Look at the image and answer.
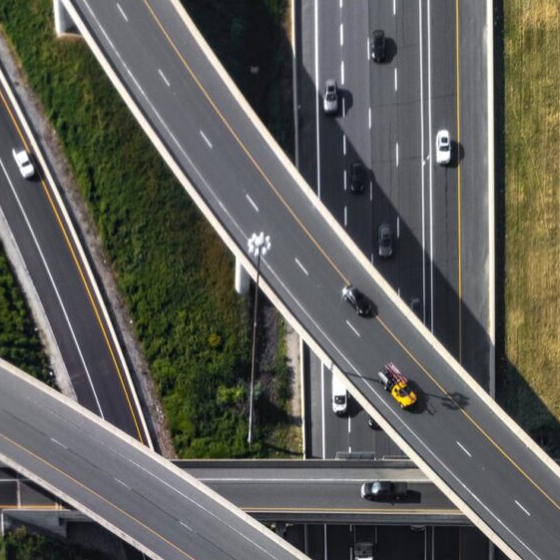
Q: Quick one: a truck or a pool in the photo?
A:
truck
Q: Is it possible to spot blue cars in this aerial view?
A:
No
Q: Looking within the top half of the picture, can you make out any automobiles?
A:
Yes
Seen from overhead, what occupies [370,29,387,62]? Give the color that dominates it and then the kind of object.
black car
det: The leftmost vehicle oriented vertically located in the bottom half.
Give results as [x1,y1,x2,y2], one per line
[332,374,350,413]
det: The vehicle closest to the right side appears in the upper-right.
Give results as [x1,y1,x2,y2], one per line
[436,130,452,164]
